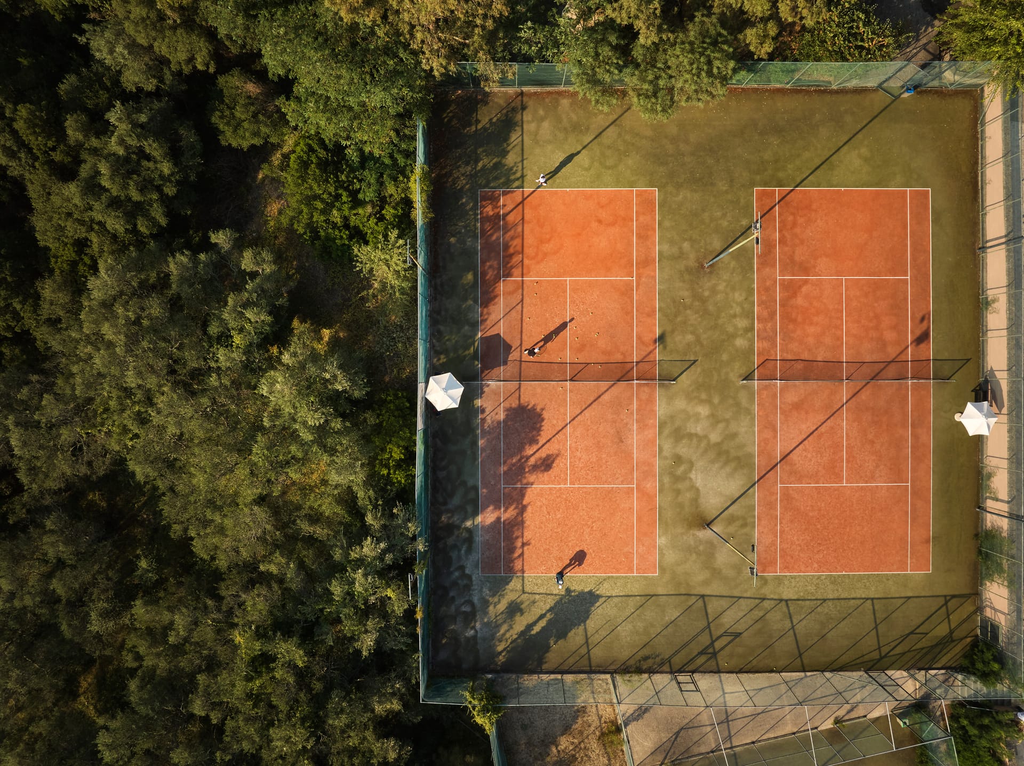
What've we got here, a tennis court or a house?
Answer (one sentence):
I can see a tennis court in this picture.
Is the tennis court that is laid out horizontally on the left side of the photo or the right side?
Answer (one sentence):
The tennis court that is laid out horizontally is on the right side of the image.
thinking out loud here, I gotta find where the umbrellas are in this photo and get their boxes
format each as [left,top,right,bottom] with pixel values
[425,373,464,411]
[956,401,998,436]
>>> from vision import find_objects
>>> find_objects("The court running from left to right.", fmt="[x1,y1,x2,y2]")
[673,705,935,766]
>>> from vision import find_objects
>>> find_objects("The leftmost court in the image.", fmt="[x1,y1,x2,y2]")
[479,188,658,576]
